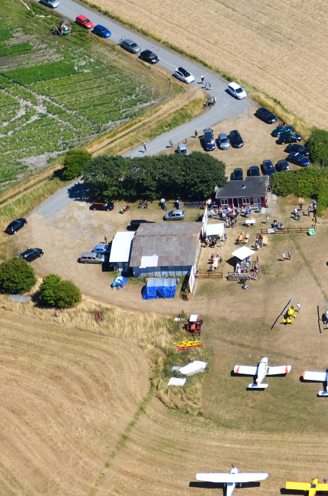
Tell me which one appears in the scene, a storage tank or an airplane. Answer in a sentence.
It is an airplane that can be seen here.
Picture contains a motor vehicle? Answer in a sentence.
Yes, there's a motor vehicle down there.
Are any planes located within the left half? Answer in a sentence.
No, no plane can be made out within the left half.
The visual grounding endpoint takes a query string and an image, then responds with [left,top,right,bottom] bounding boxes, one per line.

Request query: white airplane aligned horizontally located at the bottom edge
[194,466,267,496]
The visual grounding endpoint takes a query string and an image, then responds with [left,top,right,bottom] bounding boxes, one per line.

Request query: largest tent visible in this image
[141,277,177,298]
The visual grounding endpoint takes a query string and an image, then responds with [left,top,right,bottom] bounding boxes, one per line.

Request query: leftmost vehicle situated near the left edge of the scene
[5,220,29,234]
